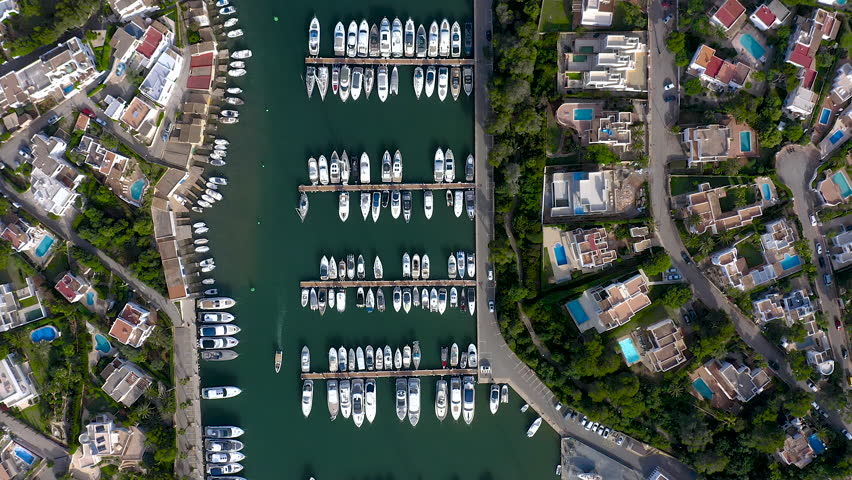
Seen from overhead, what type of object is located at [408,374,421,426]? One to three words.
boat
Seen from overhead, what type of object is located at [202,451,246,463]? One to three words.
boat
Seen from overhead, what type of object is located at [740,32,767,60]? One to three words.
swimming pool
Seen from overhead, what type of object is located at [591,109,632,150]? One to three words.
house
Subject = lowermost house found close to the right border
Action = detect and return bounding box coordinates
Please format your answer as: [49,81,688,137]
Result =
[770,417,815,470]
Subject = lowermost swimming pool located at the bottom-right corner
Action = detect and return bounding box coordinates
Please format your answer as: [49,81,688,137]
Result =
[808,433,826,455]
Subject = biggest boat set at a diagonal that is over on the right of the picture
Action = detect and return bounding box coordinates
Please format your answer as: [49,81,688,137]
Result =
[526,418,541,437]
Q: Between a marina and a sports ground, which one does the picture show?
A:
marina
